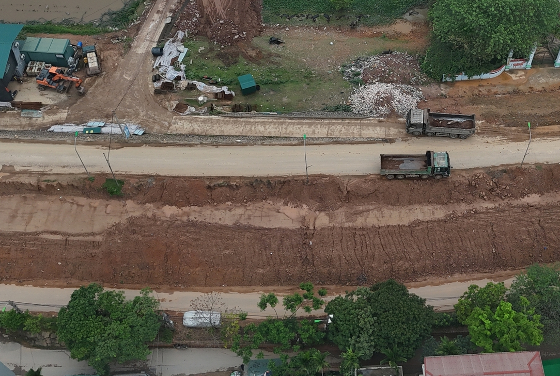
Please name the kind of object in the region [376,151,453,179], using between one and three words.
truck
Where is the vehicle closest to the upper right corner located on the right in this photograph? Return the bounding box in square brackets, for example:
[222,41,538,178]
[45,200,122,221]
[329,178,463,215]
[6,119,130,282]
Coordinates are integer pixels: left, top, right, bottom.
[406,109,479,139]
